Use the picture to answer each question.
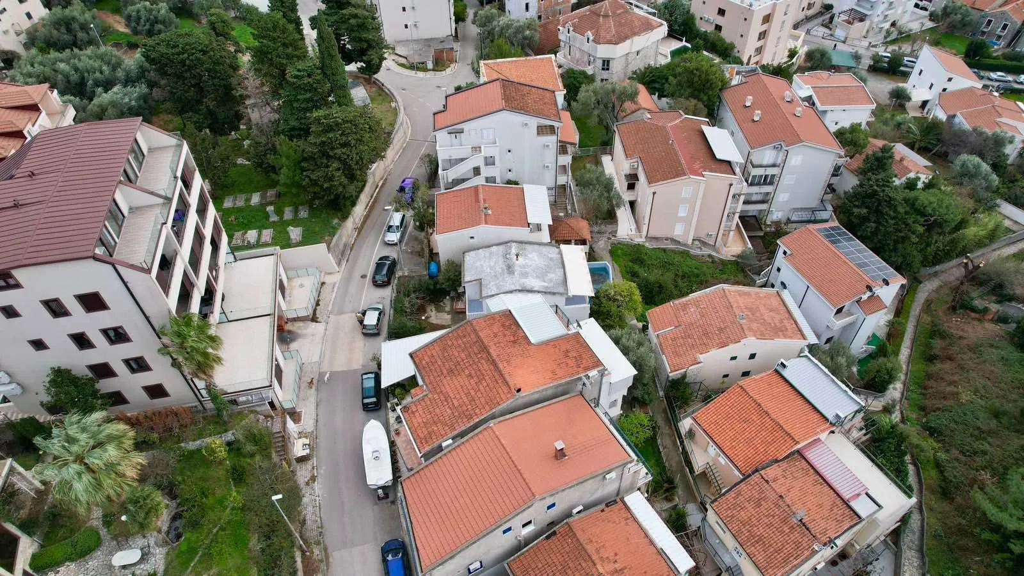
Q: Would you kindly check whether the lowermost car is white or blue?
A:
blue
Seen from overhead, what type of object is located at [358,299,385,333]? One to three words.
car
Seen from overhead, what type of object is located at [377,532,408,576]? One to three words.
car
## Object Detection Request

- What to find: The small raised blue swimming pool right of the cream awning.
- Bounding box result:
[587,261,613,288]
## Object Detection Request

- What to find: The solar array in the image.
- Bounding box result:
[817,225,900,281]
